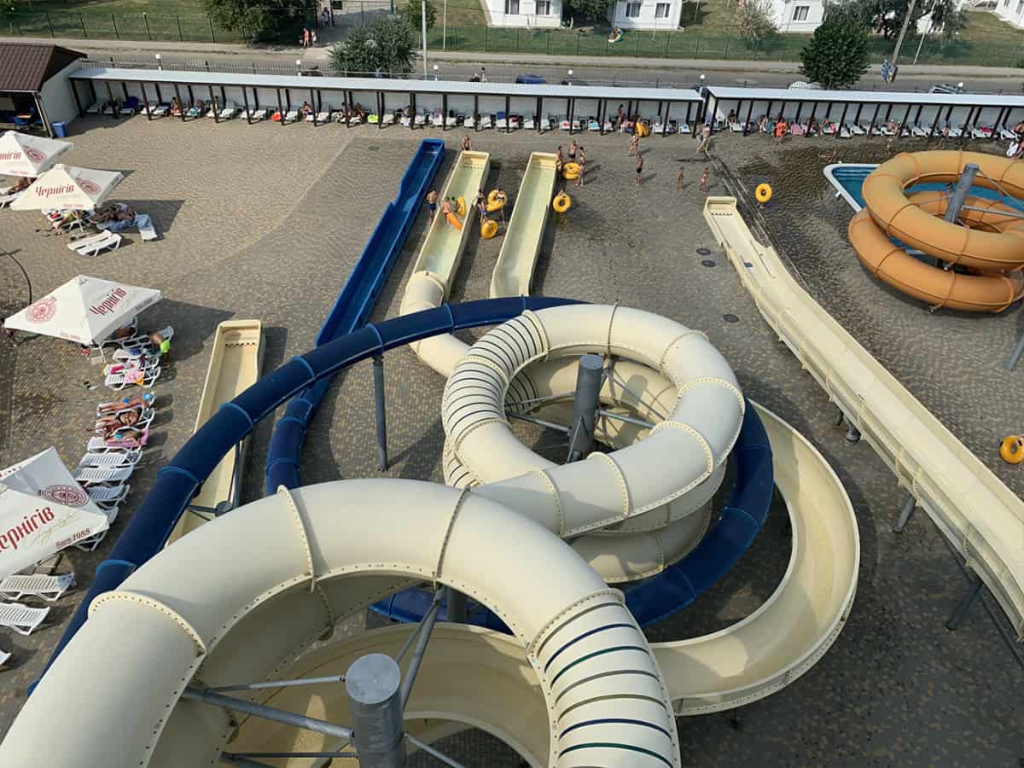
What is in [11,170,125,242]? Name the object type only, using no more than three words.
umbrella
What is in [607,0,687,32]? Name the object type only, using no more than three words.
house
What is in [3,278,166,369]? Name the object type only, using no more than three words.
umbrella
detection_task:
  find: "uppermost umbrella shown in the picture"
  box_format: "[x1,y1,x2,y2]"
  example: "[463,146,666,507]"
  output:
[0,140,73,194]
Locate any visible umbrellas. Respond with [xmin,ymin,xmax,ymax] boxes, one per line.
[3,278,166,369]
[0,140,73,194]
[0,448,113,598]
[11,170,125,242]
